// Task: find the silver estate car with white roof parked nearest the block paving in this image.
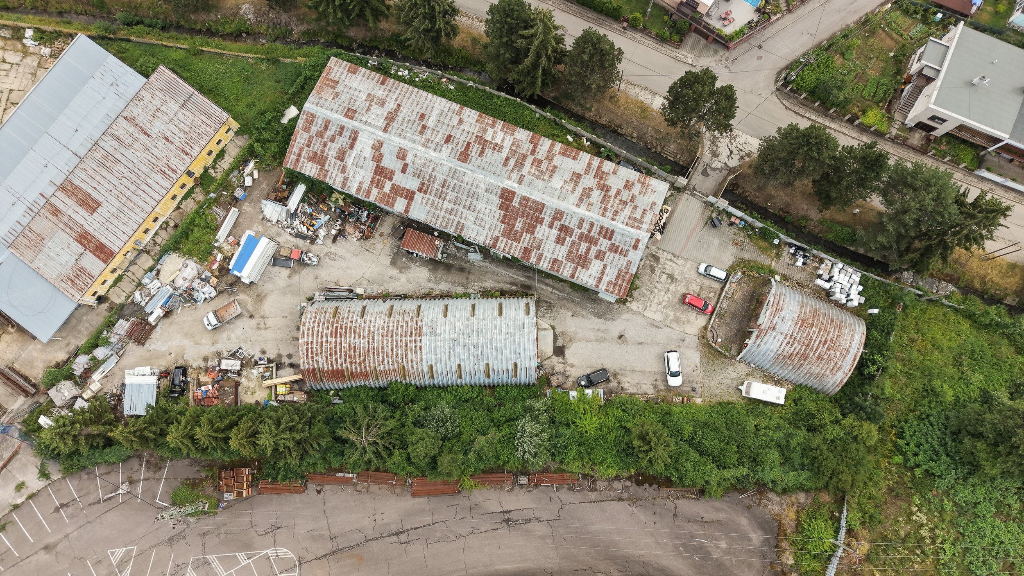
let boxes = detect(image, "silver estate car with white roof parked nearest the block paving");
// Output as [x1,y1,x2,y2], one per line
[694,261,733,285]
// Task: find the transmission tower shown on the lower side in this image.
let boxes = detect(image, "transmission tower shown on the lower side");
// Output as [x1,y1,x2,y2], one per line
[157,497,216,540]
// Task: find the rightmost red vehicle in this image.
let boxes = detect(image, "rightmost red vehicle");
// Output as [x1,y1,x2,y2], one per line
[680,291,717,316]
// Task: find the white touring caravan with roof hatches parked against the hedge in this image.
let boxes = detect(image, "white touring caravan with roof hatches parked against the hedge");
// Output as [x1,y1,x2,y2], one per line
[732,379,789,405]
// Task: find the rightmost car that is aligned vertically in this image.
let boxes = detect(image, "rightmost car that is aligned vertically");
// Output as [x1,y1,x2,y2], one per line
[664,349,683,387]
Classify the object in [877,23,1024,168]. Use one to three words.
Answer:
house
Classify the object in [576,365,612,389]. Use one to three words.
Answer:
car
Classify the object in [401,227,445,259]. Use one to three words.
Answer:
shed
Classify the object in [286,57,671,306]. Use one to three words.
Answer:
building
